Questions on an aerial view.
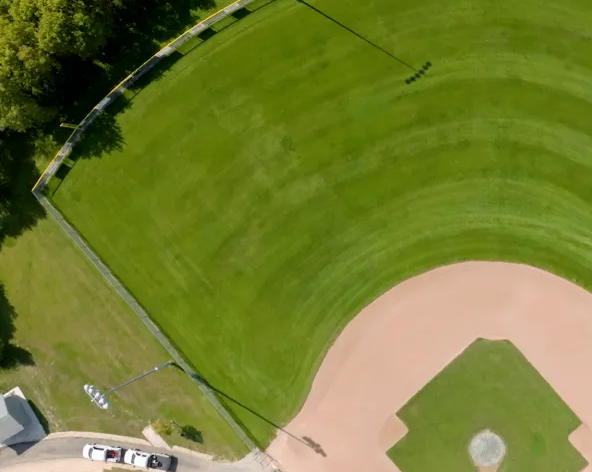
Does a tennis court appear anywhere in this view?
No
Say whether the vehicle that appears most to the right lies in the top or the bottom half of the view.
bottom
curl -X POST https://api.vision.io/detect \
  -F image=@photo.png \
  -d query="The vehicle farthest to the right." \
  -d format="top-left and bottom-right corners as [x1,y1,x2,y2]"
[127,448,175,468]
